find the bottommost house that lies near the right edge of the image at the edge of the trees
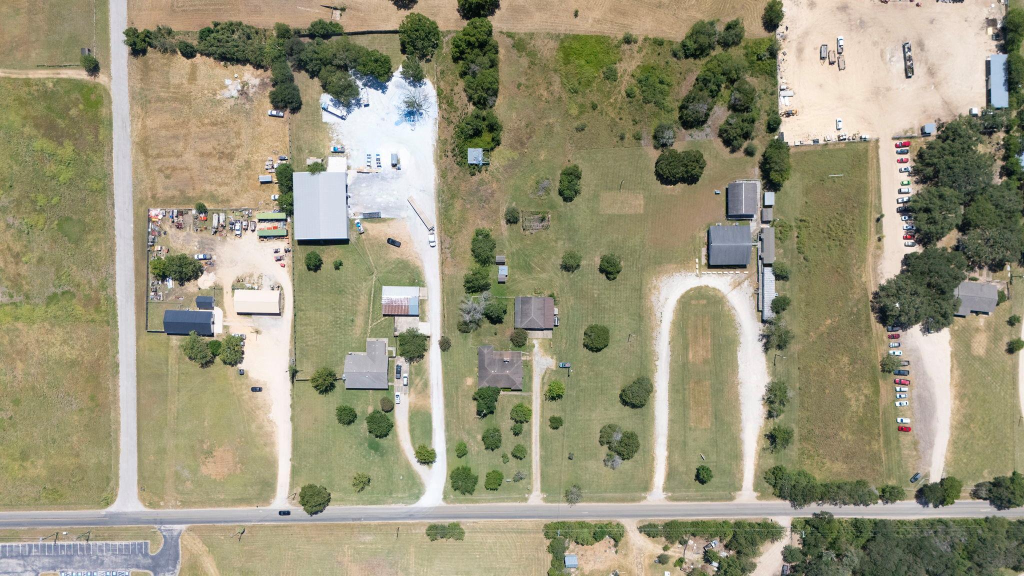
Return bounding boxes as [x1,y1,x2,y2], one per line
[953,284,999,314]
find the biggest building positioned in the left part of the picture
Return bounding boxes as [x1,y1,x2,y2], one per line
[293,171,352,240]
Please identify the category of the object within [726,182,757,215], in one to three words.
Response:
building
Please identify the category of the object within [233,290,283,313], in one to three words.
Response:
building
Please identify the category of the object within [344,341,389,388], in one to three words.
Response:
house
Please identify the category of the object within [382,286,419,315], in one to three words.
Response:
barn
